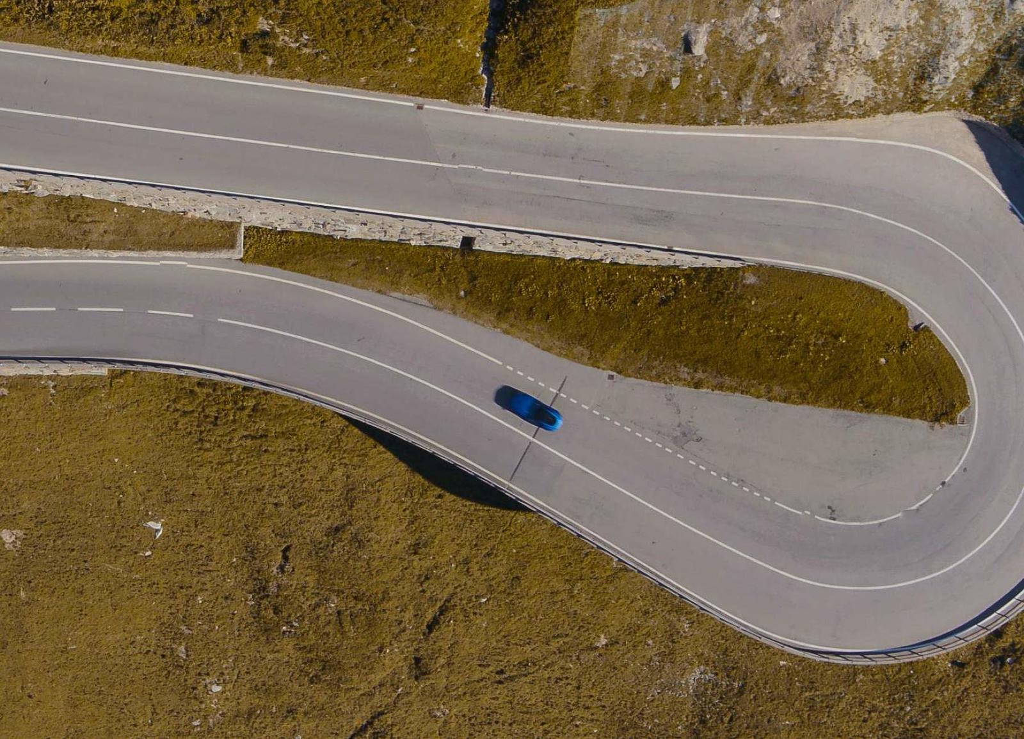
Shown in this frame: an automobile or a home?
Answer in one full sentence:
There is an automobile in the scene.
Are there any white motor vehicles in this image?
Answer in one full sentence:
No, no white motor vehicle is visible in the scene.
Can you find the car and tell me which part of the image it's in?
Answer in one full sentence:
Look in the center portion of the view to spot the car.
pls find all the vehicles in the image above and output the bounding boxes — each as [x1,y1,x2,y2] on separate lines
[511,393,565,433]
